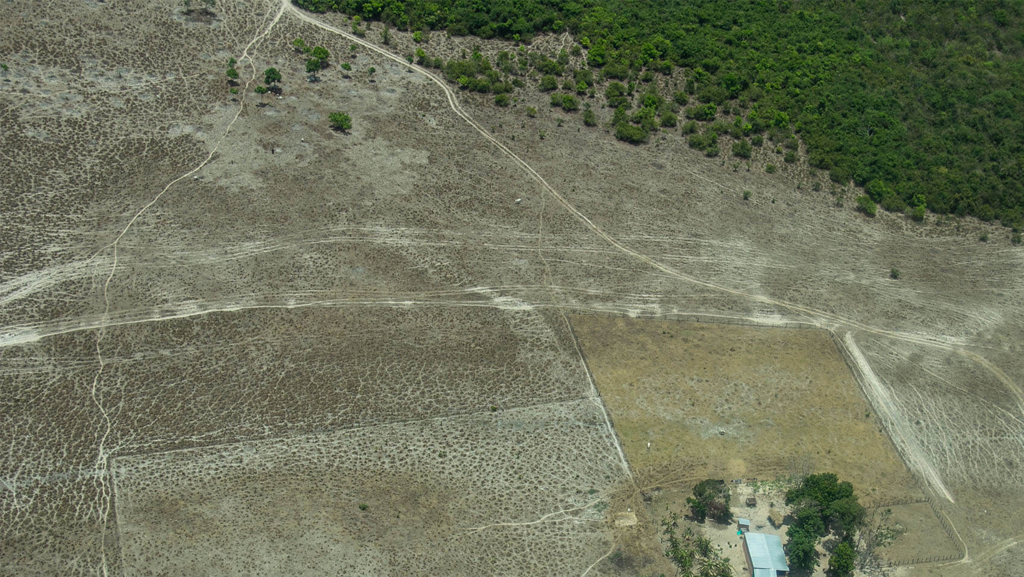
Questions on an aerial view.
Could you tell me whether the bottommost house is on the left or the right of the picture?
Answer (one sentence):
You can find the bottommost house on the right side of the picture.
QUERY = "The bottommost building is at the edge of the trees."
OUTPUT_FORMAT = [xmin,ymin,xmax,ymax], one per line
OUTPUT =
[743,529,788,577]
